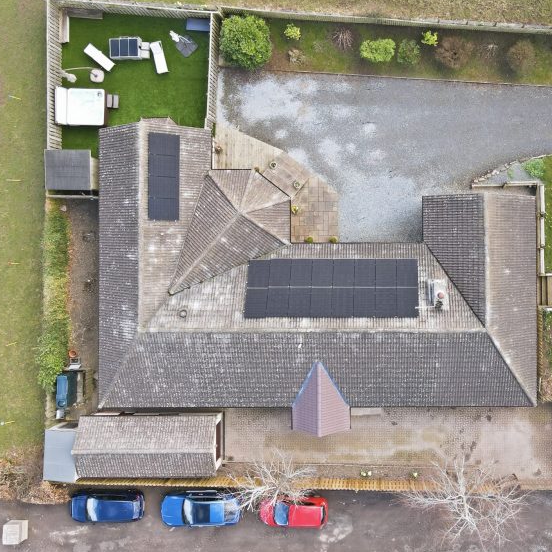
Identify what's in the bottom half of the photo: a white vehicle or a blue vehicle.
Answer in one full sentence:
The one visible in the bottom half of the photo is a blue vehicle.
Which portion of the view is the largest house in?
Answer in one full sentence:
The largest house appears toward the center of the photo.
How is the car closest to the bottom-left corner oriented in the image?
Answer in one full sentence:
The car closest to the bottom-left corner has been laid out horizontally relative to the frame.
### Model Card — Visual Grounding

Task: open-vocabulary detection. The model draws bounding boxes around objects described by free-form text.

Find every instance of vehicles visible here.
[72,488,147,527]
[260,494,328,532]
[162,490,241,531]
